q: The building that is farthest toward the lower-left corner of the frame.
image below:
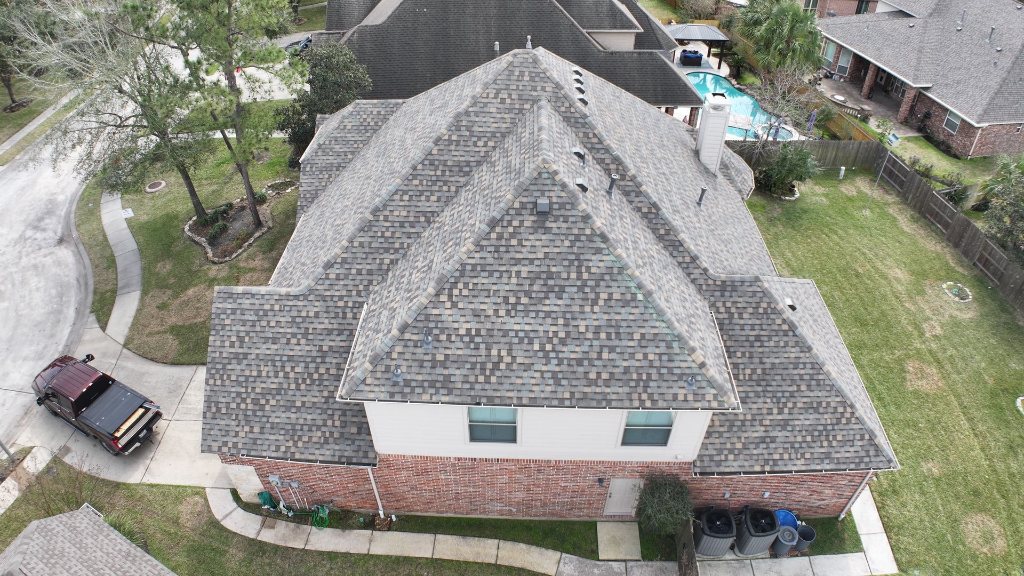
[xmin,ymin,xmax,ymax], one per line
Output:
[0,501,177,576]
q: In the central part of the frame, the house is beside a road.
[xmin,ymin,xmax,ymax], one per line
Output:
[198,43,910,537]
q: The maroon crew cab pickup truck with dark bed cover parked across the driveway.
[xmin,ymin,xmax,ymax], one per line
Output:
[36,357,170,460]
